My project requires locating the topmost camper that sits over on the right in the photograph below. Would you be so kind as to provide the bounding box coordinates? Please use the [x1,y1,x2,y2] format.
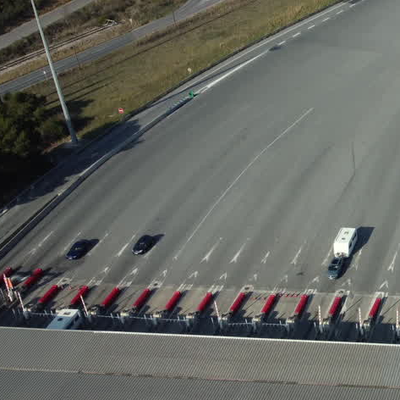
[334,226,357,258]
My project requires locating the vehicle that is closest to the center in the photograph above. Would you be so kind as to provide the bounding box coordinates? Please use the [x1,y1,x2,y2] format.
[131,236,157,256]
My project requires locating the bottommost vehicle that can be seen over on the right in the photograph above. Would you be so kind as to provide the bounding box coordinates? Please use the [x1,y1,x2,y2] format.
[328,254,346,278]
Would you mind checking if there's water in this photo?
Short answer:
No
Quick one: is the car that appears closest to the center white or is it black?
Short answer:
black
